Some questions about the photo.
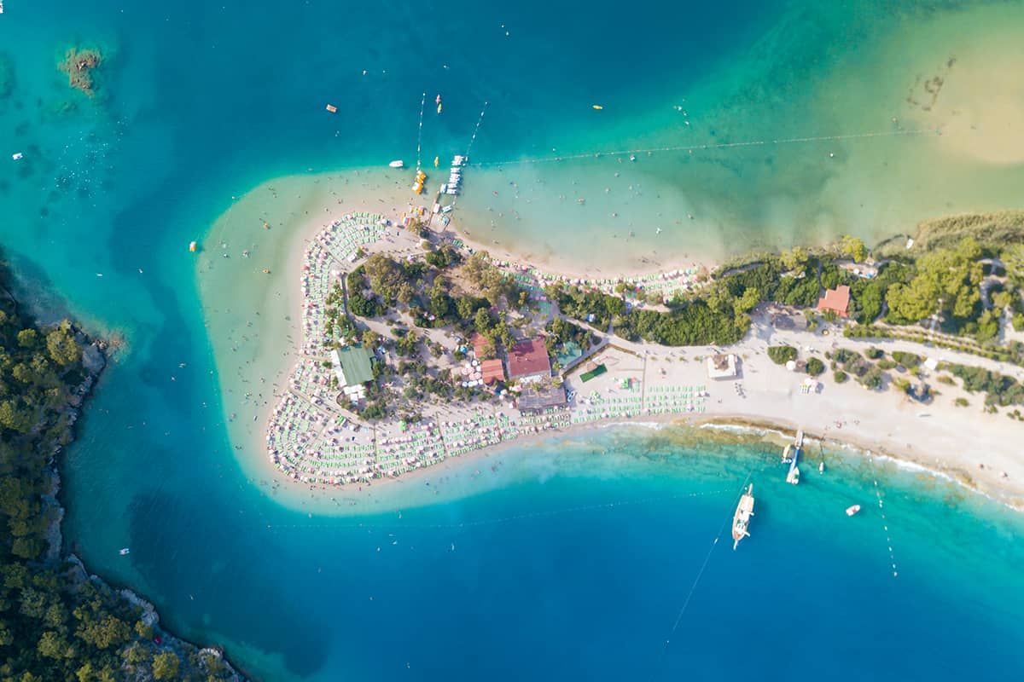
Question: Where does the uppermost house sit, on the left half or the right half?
right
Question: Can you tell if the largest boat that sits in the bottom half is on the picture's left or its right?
right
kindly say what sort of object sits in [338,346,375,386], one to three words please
building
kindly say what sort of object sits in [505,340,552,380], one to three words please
building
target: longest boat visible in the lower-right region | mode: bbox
[734,486,757,554]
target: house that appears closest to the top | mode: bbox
[815,284,848,316]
